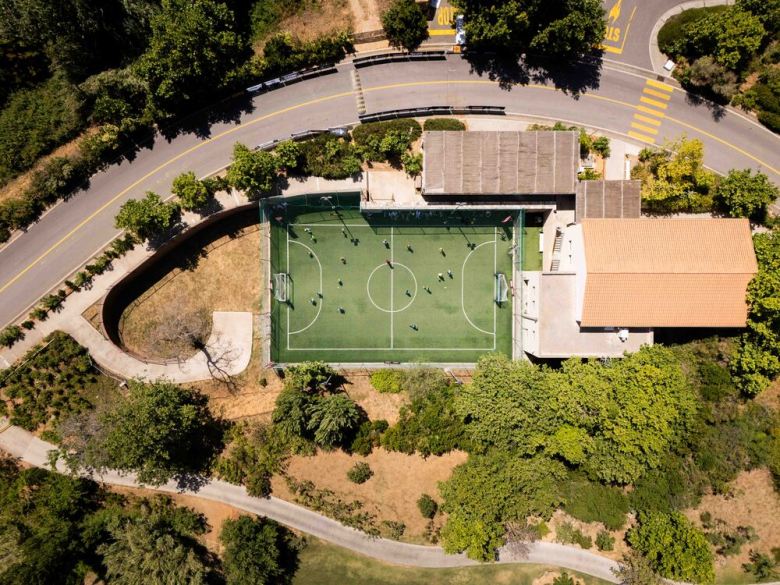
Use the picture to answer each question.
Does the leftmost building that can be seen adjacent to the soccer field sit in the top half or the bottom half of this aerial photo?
top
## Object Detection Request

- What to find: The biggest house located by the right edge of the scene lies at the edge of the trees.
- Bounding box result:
[561,218,757,328]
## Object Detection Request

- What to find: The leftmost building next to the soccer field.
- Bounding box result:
[423,132,579,203]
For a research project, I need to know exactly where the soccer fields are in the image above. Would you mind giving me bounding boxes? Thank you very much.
[263,197,522,369]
